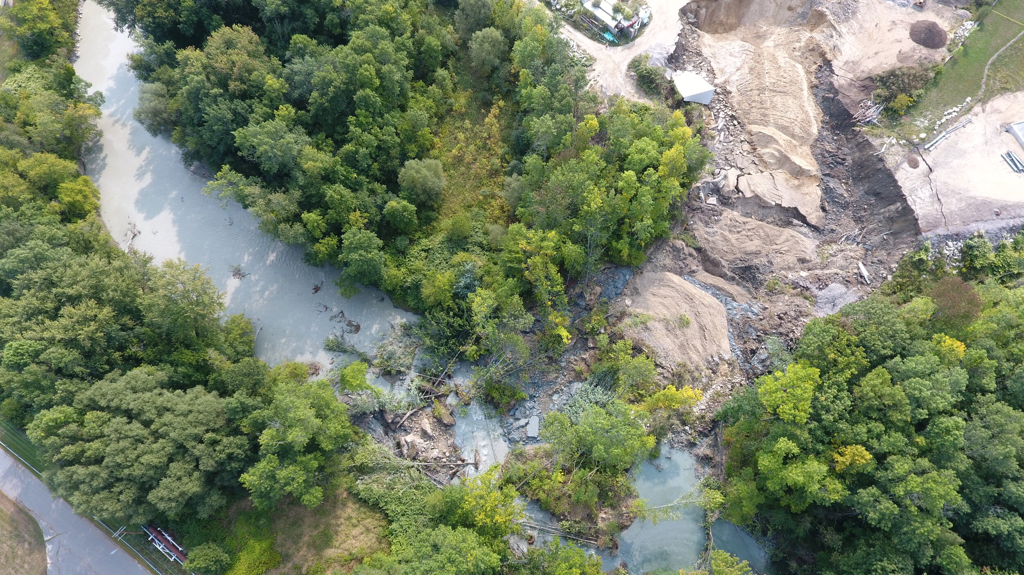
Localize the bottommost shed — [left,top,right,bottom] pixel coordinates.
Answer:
[671,68,715,104]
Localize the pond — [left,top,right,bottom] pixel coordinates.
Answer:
[614,437,776,575]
